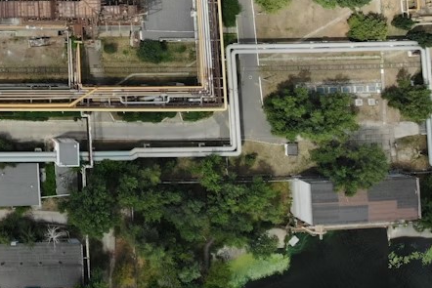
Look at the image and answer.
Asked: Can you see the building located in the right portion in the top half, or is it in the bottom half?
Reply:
bottom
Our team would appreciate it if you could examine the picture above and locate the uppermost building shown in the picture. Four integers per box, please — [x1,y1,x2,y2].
[137,0,195,42]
